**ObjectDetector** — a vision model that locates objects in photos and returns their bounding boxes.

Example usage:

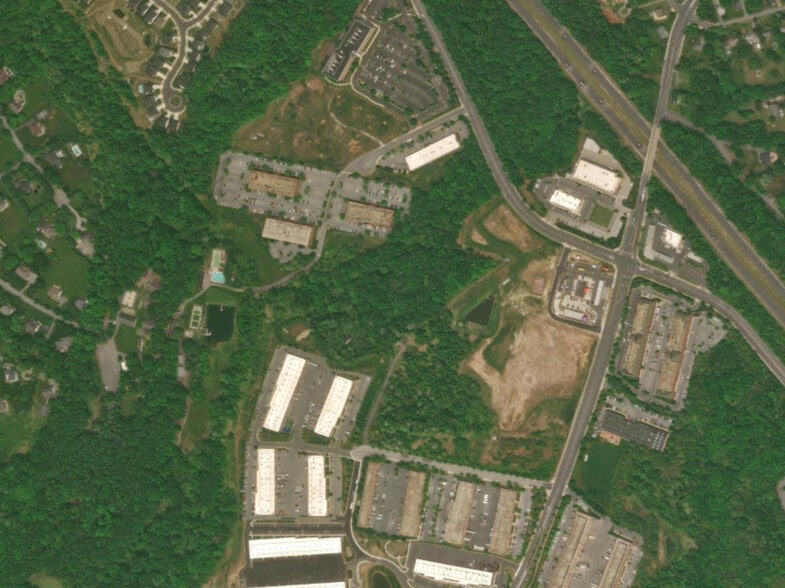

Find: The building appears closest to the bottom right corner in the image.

[596,538,633,588]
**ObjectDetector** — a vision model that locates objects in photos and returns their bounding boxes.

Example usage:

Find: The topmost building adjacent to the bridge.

[573,159,622,192]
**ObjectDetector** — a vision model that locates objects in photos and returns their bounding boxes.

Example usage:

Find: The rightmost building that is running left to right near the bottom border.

[414,559,493,586]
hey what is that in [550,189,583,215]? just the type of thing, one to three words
building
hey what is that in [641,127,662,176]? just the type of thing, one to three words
bridge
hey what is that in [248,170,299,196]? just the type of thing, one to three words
building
